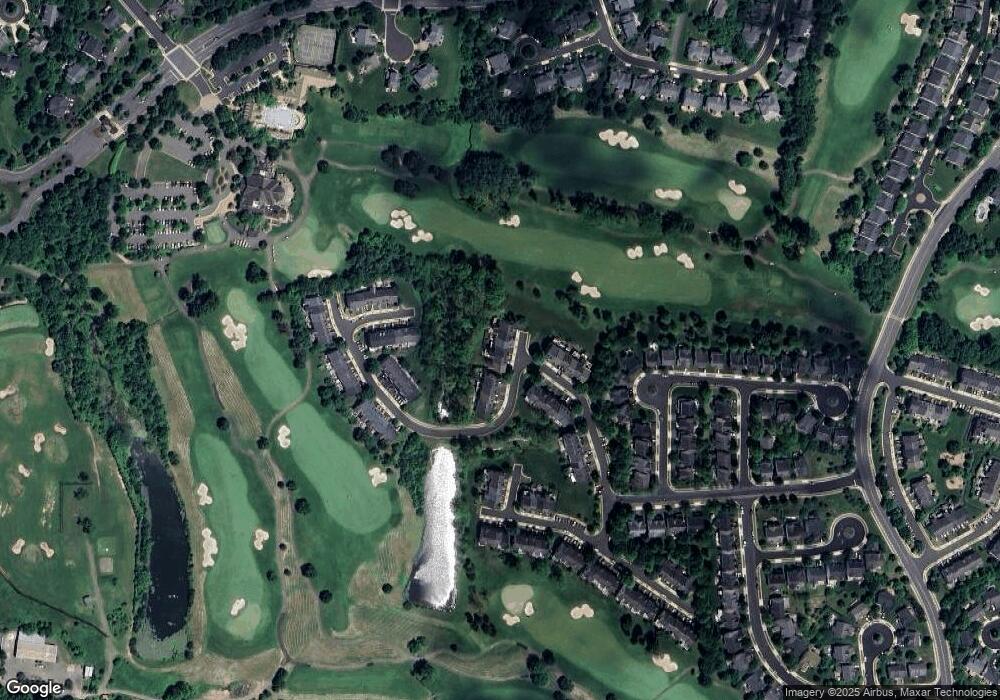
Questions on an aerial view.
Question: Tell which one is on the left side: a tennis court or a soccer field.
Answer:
tennis court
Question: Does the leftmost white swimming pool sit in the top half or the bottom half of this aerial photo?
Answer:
top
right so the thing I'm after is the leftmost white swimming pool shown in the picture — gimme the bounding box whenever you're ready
[241,101,306,139]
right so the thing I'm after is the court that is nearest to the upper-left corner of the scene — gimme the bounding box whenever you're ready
[296,26,337,65]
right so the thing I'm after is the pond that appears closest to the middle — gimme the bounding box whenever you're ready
[408,446,457,609]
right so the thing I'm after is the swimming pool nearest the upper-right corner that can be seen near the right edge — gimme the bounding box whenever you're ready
[978,201,996,221]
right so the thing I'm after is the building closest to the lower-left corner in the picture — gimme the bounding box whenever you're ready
[16,632,57,663]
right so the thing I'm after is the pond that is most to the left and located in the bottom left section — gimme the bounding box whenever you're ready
[136,440,190,639]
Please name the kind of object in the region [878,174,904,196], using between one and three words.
house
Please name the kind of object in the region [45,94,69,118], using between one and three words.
house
